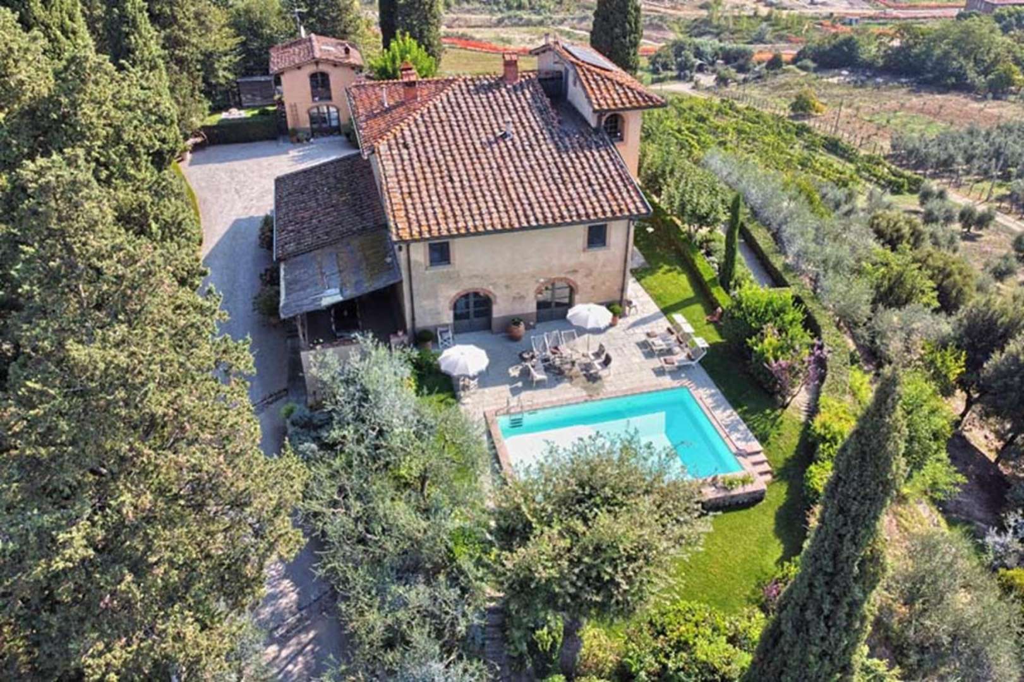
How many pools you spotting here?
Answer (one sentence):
In total, there is 1 pool in the scene.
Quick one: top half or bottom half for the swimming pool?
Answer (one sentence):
The swimming pool is in the bottom half of the image.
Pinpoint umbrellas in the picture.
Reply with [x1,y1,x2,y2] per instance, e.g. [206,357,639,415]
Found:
[564,300,616,352]
[437,340,492,381]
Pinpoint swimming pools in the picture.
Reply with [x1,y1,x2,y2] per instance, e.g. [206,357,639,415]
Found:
[483,378,783,540]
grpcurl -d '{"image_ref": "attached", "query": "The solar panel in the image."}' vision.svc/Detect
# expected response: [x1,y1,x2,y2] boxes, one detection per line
[558,34,618,65]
